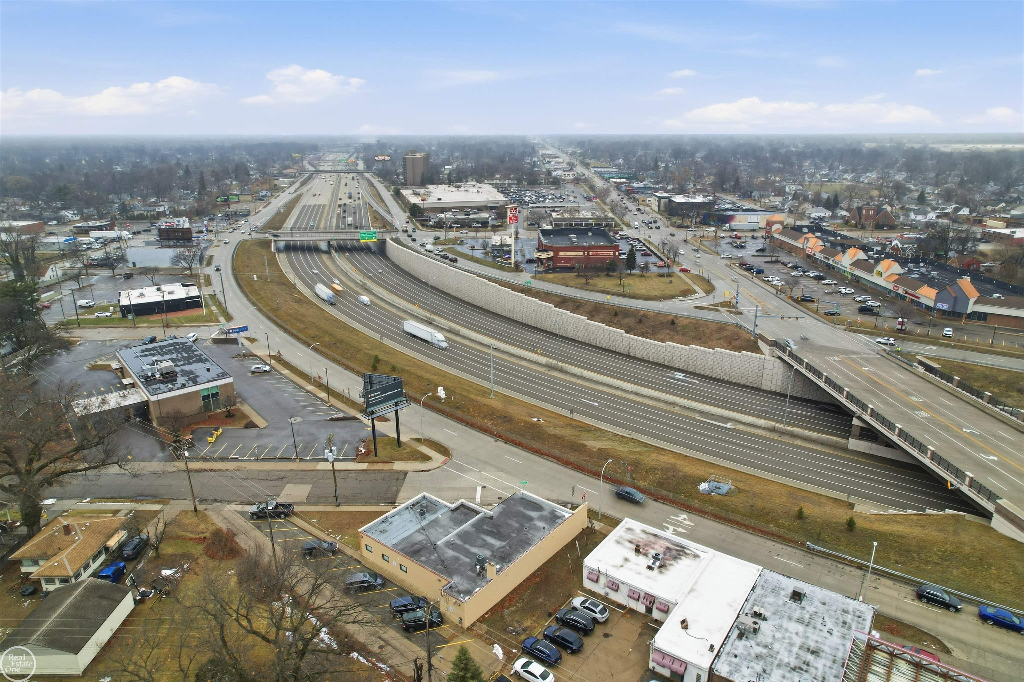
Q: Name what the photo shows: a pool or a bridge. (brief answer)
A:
bridge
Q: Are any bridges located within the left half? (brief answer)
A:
Yes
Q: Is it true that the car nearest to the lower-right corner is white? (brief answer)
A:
No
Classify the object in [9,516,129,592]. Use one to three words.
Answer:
house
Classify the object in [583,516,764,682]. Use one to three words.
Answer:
building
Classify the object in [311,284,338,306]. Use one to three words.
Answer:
truck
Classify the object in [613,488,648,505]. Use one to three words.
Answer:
car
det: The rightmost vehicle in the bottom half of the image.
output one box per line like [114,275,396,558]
[976,606,1024,637]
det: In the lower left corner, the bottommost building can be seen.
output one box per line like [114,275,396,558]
[0,575,136,675]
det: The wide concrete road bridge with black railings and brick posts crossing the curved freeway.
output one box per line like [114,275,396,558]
[758,332,1024,559]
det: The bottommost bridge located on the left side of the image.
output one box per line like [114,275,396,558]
[270,226,393,260]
